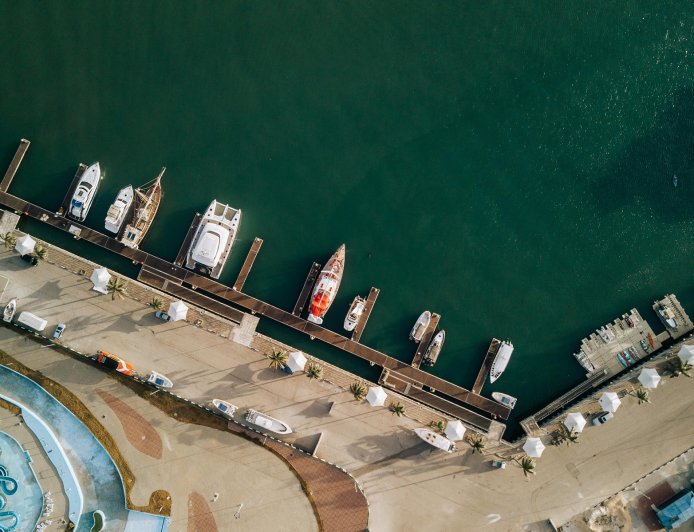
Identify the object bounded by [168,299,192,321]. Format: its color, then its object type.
white tent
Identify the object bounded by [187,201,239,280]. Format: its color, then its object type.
white boat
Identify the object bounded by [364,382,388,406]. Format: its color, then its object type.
white tent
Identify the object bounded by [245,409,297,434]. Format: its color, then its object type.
white boat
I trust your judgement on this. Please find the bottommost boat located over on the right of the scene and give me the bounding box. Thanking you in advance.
[410,425,455,453]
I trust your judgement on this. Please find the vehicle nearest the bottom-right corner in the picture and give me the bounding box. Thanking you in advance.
[592,411,613,426]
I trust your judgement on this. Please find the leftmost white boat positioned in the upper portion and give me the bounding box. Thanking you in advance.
[69,162,101,224]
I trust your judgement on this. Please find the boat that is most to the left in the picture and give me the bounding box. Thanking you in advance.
[4,298,19,323]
